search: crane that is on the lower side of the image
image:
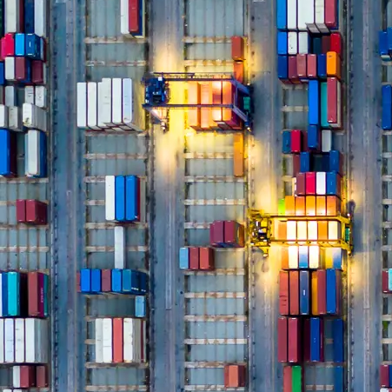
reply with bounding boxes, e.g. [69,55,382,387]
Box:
[242,209,358,266]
